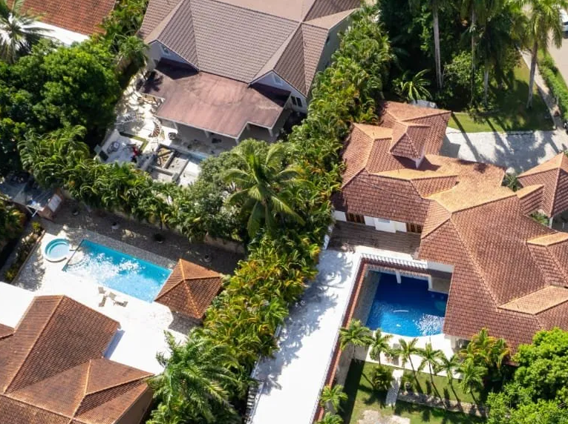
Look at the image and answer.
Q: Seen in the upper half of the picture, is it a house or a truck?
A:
house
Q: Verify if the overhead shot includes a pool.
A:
Yes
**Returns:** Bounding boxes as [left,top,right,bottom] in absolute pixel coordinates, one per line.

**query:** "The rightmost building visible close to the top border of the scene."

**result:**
[138,0,359,147]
